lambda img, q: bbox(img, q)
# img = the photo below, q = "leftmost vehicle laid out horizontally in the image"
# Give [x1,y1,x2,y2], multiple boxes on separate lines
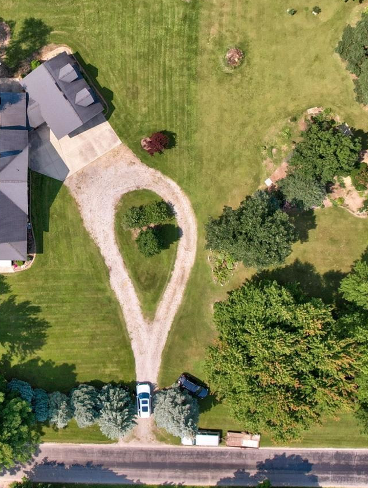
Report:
[179,428,222,447]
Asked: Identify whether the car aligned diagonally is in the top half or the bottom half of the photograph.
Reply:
bottom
